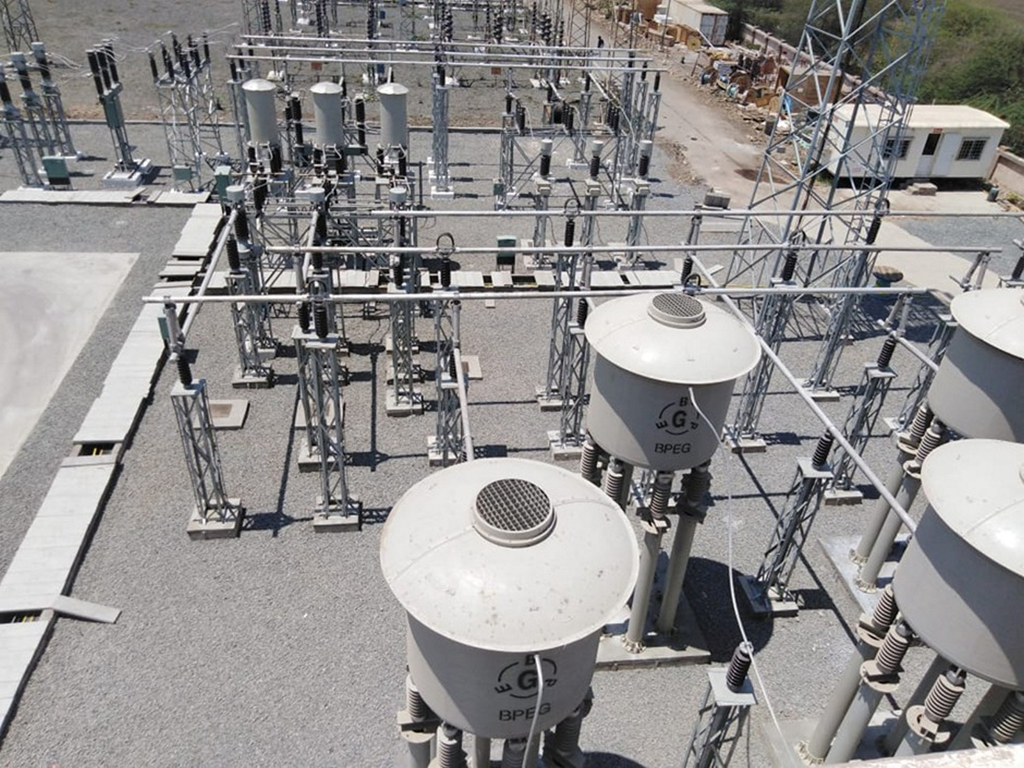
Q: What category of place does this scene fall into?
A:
industrial area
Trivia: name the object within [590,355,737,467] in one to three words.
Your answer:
storage tank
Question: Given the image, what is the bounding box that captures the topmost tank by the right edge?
[930,321,1024,443]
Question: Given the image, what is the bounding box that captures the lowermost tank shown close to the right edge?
[897,507,1024,684]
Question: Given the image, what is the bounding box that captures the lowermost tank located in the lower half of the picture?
[408,614,603,733]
